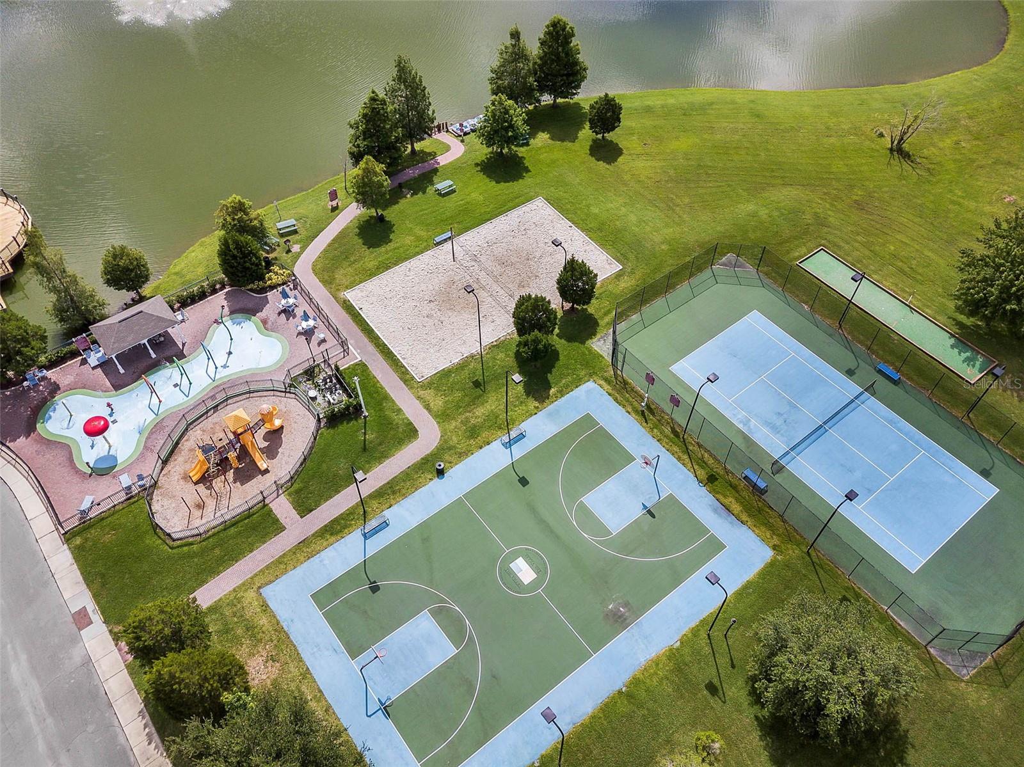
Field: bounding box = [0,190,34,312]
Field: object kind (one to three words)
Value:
pier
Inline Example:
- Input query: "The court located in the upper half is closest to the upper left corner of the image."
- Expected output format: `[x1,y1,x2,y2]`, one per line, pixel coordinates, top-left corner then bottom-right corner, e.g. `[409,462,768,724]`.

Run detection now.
[344,196,623,382]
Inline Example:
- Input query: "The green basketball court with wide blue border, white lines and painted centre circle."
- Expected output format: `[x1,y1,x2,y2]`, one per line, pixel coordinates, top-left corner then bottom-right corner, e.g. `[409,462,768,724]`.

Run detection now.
[262,382,773,767]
